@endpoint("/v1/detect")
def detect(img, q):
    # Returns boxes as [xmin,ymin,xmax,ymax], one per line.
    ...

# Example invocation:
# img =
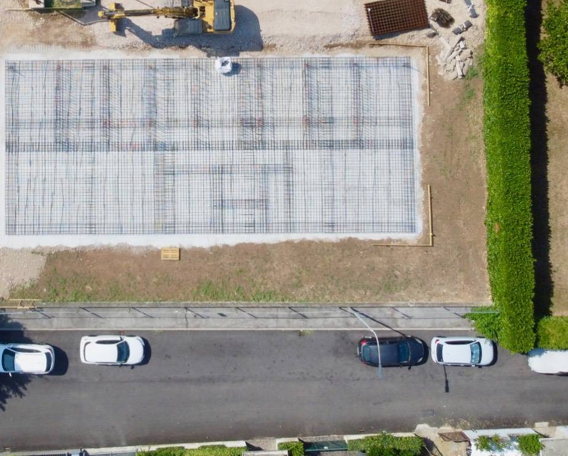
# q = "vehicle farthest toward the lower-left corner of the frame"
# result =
[0,340,56,376]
